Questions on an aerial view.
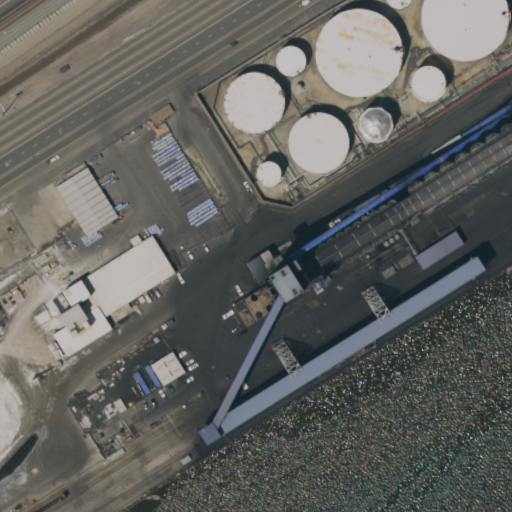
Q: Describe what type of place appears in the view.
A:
industrial area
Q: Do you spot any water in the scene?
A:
Yes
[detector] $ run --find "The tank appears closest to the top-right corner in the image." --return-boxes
[420,0,510,63]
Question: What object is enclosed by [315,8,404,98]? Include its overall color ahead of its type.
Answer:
white storage tank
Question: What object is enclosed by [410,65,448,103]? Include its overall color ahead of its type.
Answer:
white storage tank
